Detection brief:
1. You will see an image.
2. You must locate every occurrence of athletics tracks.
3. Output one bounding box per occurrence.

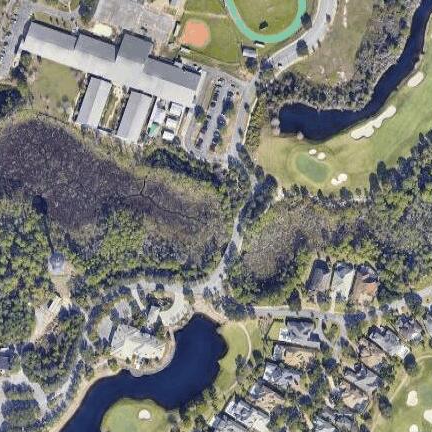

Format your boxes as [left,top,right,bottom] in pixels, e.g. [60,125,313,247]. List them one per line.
[225,0,309,44]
